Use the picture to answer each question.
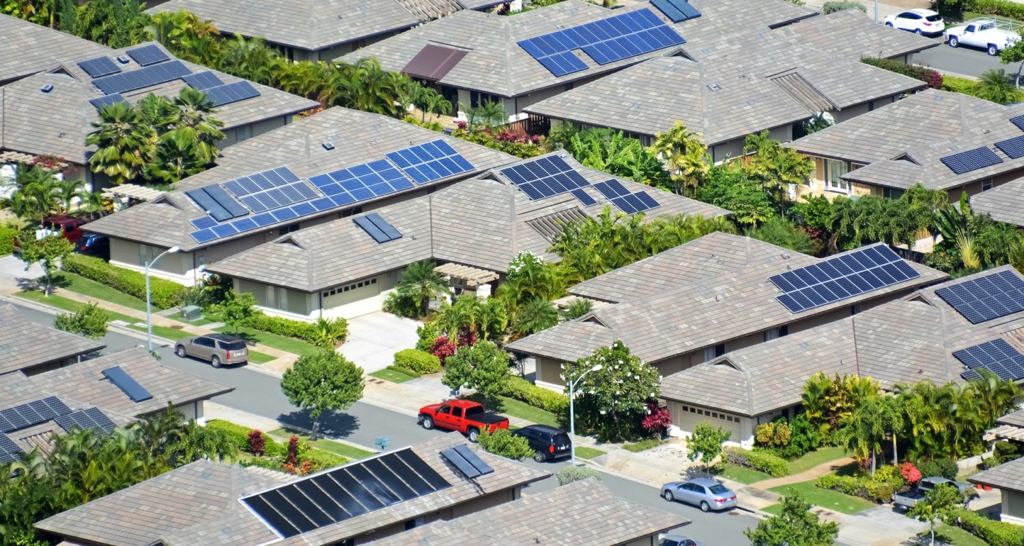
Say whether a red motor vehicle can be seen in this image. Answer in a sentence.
Yes, there is a red motor vehicle in the image.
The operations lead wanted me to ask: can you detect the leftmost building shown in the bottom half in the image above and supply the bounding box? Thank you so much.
[0,307,110,378]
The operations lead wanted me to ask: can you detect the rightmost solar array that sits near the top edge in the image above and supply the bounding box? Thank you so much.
[517,8,682,78]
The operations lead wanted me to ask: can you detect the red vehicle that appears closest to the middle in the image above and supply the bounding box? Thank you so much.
[414,398,508,444]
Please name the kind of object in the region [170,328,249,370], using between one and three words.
car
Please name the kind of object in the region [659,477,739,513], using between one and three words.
car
